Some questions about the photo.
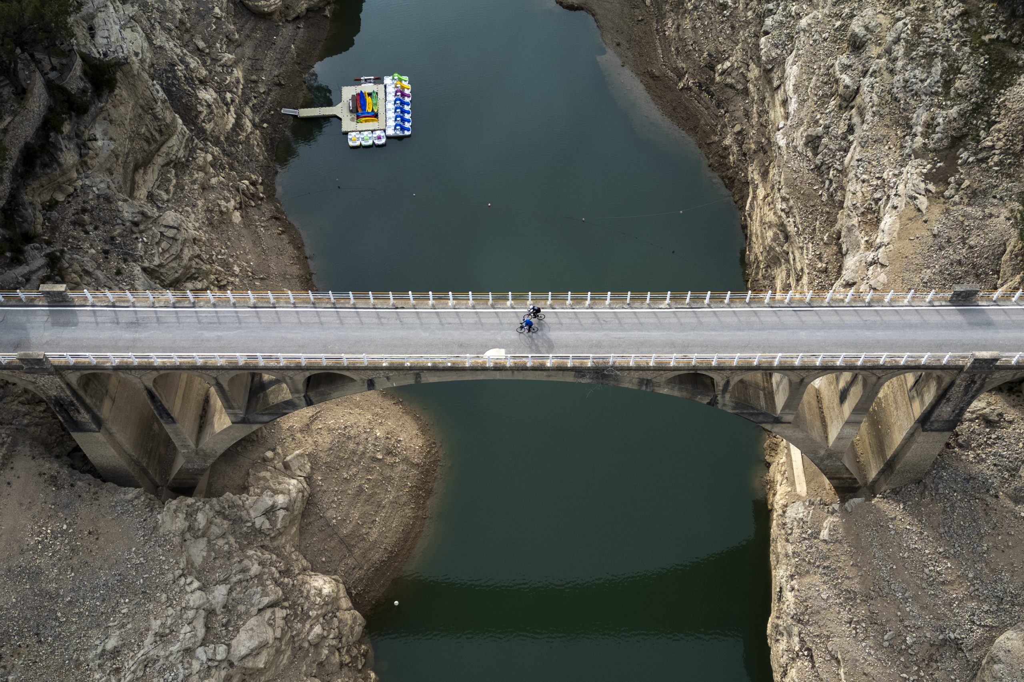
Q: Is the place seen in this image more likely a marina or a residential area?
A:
marina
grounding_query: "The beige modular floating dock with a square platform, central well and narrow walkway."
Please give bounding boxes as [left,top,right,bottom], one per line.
[298,84,386,133]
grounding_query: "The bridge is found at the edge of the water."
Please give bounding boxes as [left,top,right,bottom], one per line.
[0,282,1024,504]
